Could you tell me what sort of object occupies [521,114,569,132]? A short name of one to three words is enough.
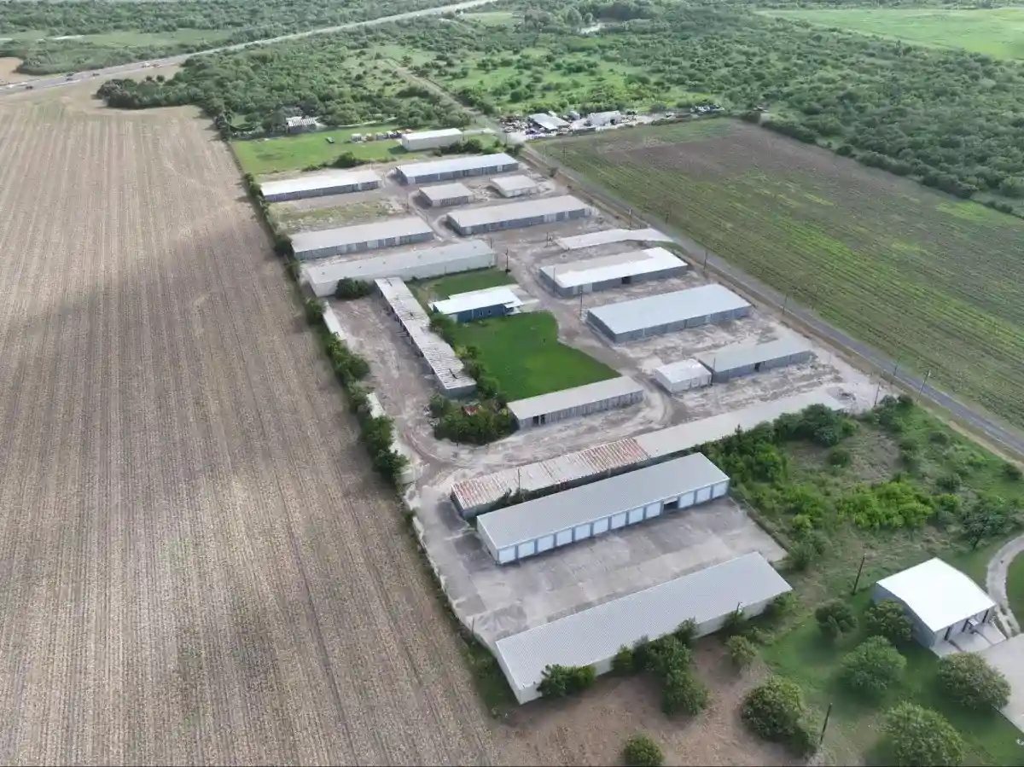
shed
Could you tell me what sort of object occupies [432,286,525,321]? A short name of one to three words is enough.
house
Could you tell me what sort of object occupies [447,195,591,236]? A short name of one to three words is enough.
building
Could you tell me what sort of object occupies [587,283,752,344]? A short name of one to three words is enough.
building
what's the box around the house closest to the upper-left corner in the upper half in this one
[285,115,318,132]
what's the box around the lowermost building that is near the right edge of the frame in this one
[874,557,1000,655]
